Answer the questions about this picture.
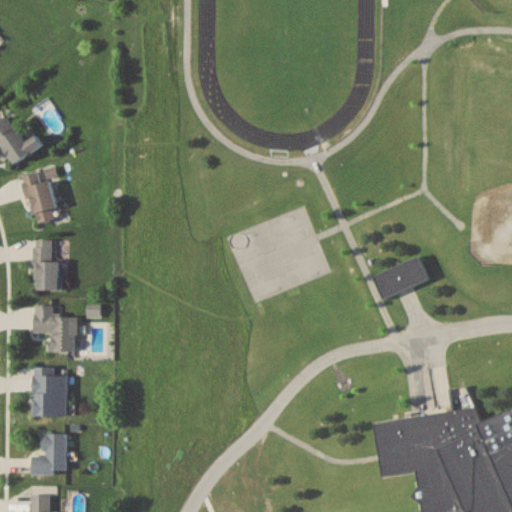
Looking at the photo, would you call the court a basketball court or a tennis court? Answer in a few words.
basketball court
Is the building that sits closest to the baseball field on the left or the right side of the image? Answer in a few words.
right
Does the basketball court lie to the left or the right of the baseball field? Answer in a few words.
to its left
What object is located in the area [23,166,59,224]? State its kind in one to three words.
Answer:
house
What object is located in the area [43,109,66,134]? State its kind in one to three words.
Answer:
swimming pool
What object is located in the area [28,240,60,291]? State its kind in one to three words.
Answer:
house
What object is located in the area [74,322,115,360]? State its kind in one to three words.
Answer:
swimming pool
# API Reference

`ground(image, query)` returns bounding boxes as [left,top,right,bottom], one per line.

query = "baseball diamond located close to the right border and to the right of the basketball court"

[470,184,512,266]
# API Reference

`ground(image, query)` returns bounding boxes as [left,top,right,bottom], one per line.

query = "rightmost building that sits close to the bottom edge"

[372,406,512,512]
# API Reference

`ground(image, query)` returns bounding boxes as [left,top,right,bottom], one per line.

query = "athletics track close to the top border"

[200,0,374,150]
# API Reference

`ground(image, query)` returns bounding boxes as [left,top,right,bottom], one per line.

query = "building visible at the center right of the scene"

[373,256,429,301]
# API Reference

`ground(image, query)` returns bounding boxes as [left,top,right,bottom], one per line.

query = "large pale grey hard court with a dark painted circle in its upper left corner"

[227,206,331,302]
